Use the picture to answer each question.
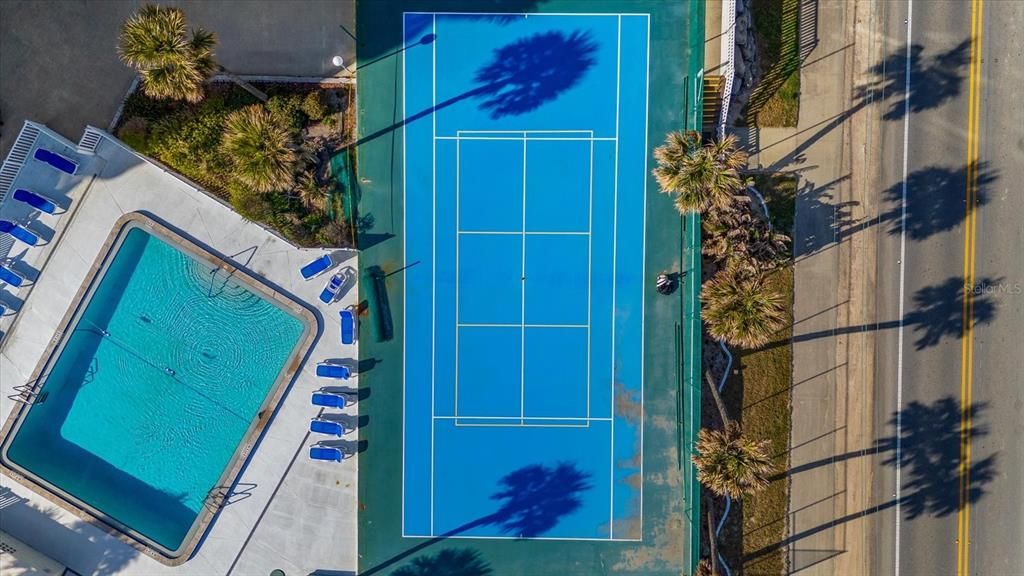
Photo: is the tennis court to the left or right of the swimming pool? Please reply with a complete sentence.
Looking at the photo, the tennis court lies to the right of the swimming pool.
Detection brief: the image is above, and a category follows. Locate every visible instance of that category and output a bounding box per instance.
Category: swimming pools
[0,213,318,566]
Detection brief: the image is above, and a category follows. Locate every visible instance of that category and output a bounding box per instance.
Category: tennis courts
[357,0,704,576]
